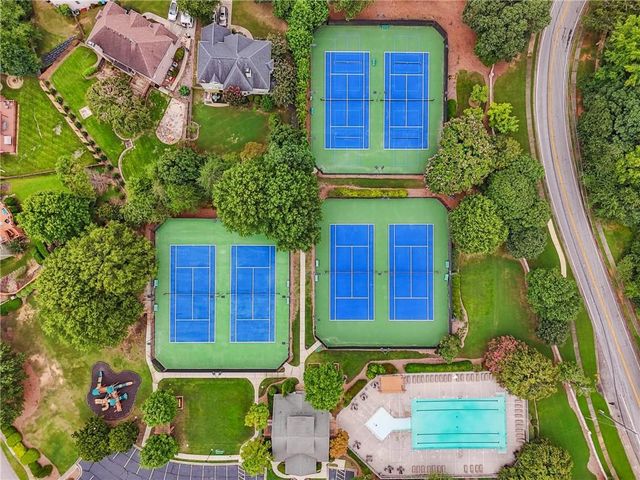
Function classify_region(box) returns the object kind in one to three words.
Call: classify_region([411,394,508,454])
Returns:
swimming pool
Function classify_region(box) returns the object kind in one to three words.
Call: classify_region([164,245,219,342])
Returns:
tennis court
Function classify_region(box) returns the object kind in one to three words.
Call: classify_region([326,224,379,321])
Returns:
tennis court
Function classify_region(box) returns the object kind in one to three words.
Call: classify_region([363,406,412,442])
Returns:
swimming pool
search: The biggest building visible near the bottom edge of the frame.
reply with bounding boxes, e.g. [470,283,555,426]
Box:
[271,393,331,476]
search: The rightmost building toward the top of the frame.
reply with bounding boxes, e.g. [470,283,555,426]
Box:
[198,22,274,94]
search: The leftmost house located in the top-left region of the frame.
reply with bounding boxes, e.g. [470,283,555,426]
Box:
[86,0,182,82]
